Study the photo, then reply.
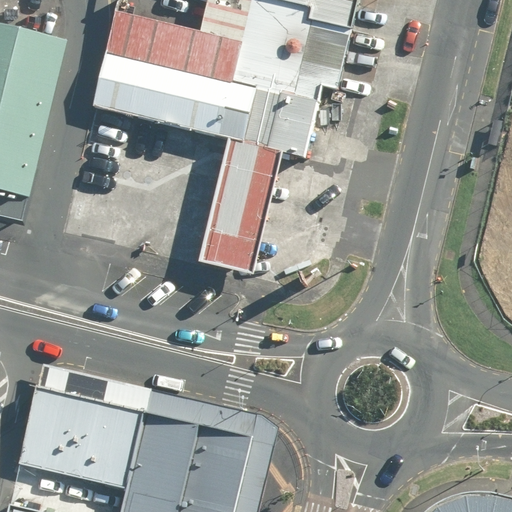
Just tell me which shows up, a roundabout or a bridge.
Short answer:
roundabout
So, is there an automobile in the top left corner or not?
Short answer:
Yes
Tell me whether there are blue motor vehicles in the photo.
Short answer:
Yes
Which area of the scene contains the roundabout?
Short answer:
bottom right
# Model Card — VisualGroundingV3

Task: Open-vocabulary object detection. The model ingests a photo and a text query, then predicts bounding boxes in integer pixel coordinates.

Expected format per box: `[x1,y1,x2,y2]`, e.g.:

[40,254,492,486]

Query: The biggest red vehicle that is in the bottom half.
[32,340,63,358]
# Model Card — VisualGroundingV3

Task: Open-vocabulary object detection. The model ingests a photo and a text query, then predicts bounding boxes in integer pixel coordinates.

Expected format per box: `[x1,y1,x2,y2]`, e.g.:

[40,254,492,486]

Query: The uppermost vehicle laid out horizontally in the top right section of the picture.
[356,10,388,25]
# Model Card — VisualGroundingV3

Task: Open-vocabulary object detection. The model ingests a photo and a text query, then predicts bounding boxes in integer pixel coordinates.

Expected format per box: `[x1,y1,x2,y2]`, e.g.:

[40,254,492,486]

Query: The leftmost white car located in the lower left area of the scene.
[36,478,65,494]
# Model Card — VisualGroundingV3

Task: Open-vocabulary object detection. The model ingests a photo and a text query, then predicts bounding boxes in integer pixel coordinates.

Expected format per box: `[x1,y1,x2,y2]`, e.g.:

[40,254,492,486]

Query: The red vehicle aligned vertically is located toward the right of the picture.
[404,19,422,52]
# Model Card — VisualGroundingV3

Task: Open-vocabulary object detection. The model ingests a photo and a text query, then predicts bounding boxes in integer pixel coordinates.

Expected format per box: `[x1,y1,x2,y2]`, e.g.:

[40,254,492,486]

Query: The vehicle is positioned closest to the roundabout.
[390,346,417,370]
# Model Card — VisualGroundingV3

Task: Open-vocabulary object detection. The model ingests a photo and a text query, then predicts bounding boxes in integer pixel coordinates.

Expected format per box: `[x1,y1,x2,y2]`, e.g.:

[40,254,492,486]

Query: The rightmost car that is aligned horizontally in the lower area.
[315,336,344,351]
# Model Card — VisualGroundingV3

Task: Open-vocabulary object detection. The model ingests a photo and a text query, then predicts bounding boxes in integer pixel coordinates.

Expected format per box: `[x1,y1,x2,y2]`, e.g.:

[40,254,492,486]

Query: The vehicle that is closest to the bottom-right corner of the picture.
[377,455,403,486]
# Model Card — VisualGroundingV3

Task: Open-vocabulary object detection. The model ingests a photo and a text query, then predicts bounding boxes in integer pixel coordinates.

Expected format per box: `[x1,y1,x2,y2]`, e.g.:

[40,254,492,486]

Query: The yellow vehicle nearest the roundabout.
[268,331,290,344]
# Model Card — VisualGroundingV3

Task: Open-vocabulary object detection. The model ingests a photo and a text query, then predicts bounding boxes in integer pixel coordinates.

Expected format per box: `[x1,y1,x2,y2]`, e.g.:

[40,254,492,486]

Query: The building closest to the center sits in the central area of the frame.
[198,138,283,276]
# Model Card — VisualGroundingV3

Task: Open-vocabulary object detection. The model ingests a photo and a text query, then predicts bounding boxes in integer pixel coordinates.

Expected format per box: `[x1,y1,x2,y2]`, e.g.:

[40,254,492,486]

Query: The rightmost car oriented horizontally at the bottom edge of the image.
[91,492,120,508]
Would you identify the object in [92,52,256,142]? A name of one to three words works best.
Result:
building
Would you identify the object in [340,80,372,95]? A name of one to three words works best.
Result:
car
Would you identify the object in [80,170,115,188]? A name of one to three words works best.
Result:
vehicle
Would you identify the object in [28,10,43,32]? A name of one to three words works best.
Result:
vehicle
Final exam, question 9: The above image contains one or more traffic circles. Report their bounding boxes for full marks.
[336,356,410,430]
